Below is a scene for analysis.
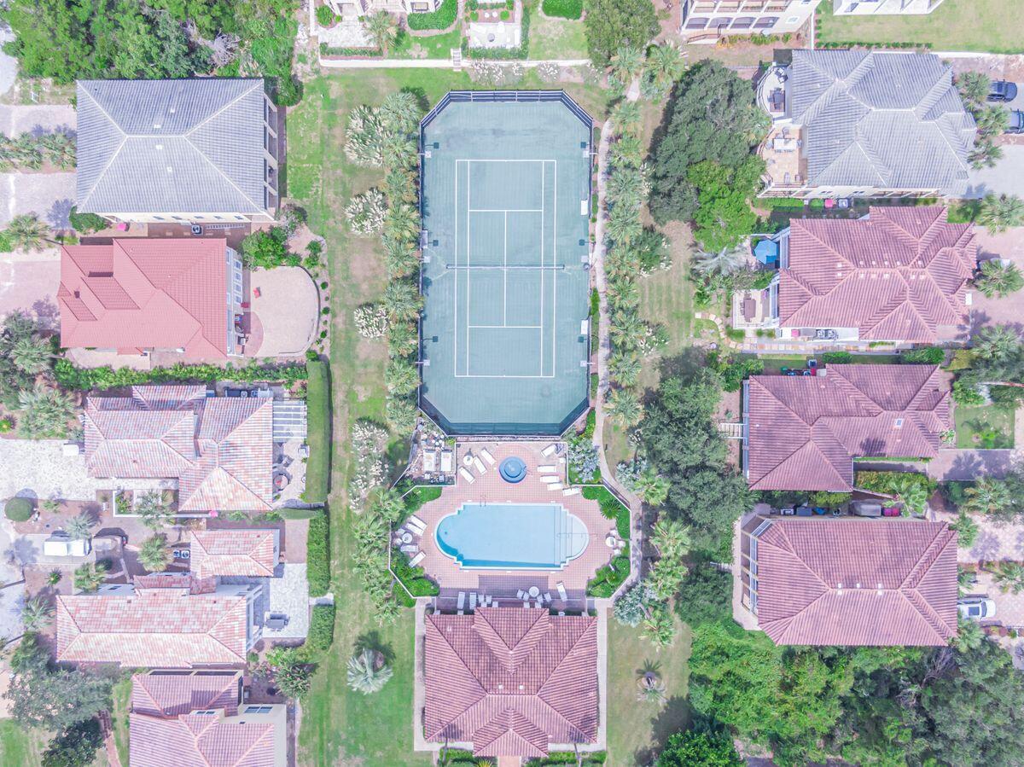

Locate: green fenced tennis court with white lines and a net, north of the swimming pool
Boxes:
[424,102,588,432]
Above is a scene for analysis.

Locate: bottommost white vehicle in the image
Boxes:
[957,598,999,621]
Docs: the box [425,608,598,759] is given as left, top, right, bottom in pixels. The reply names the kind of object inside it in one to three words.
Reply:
building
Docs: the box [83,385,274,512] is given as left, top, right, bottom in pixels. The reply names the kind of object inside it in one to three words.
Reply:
house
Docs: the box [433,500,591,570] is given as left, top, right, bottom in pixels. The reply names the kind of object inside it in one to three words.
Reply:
swimming pool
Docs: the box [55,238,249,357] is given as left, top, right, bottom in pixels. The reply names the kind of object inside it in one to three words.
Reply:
house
